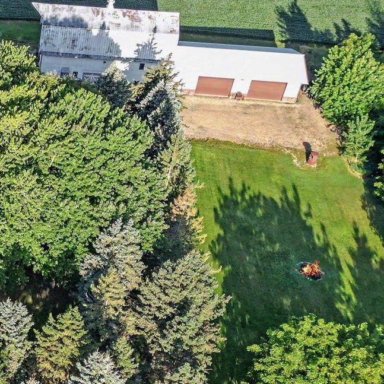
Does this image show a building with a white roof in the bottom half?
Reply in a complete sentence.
No, in the bottom half there is no building with a white roof.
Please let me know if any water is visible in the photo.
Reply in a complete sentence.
No, there is no water in the image.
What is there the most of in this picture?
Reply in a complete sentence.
The largest share of the image is taken up by trees.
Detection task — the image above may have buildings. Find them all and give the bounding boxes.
[33,0,181,87]
[177,40,310,105]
